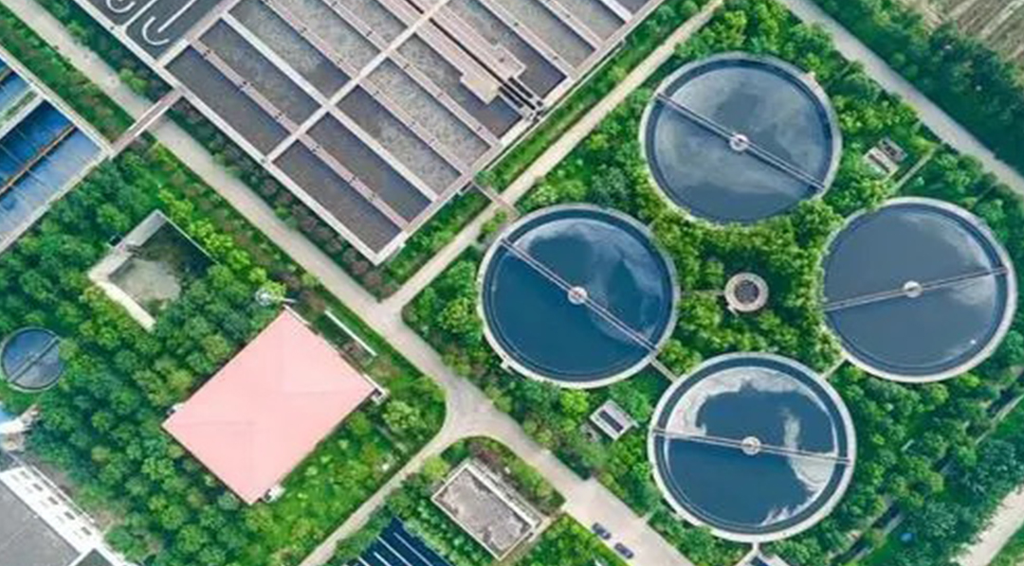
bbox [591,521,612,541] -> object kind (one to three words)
car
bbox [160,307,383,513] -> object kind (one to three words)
building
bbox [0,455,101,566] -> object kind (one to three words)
building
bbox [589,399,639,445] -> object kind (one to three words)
shed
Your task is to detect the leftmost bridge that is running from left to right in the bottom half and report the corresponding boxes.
[648,422,854,466]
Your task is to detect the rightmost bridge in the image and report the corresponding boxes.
[820,262,1013,310]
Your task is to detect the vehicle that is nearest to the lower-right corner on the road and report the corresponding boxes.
[612,540,634,561]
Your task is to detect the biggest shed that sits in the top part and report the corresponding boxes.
[862,145,901,183]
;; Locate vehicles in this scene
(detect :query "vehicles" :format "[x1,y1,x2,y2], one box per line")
[612,540,634,561]
[591,521,612,541]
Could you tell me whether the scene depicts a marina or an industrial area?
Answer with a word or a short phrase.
industrial area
